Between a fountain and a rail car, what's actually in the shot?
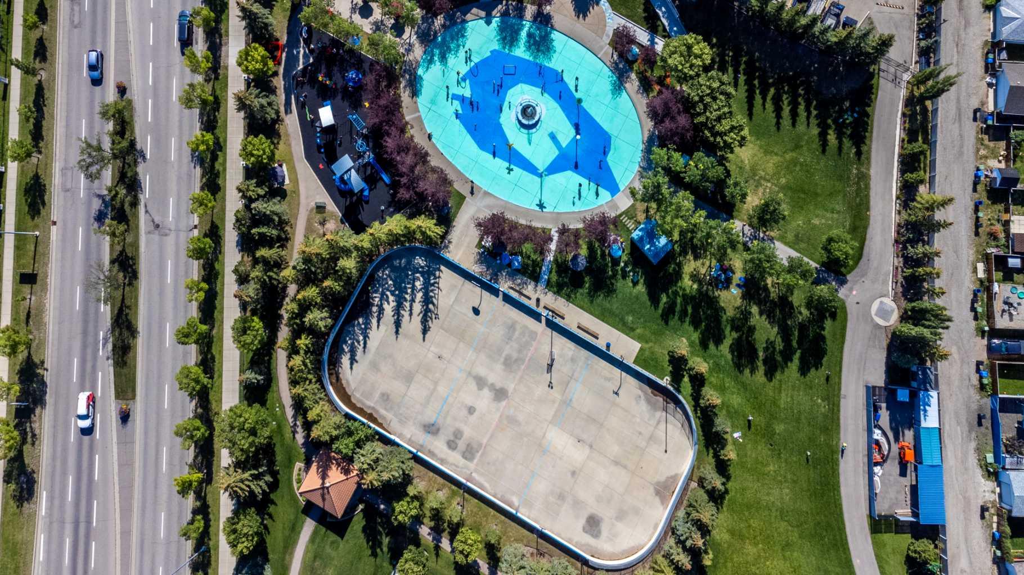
fountain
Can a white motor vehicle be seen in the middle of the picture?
No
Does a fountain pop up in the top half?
Yes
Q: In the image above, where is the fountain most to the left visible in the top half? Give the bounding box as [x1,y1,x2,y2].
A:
[512,97,547,130]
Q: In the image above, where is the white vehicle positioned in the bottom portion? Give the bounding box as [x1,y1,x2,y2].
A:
[75,392,95,426]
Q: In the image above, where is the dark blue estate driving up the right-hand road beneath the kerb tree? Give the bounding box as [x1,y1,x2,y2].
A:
[174,8,193,43]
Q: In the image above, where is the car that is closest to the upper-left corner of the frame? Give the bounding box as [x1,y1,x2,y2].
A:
[83,50,102,80]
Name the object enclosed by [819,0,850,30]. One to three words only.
truck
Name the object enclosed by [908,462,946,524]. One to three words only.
shed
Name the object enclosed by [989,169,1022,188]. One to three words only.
shed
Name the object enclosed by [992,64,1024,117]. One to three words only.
building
